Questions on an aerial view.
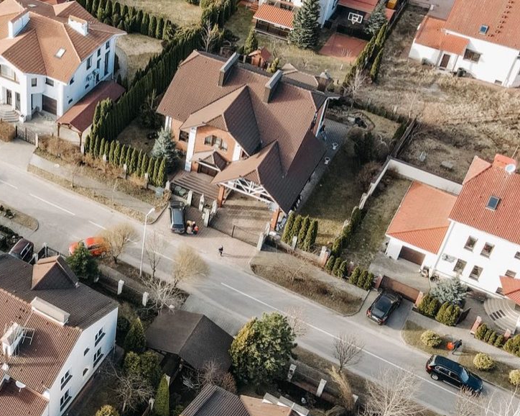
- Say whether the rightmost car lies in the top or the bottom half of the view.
bottom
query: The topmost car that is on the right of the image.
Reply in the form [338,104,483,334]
[364,289,403,326]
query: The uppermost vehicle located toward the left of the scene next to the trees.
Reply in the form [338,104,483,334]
[164,202,188,236]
